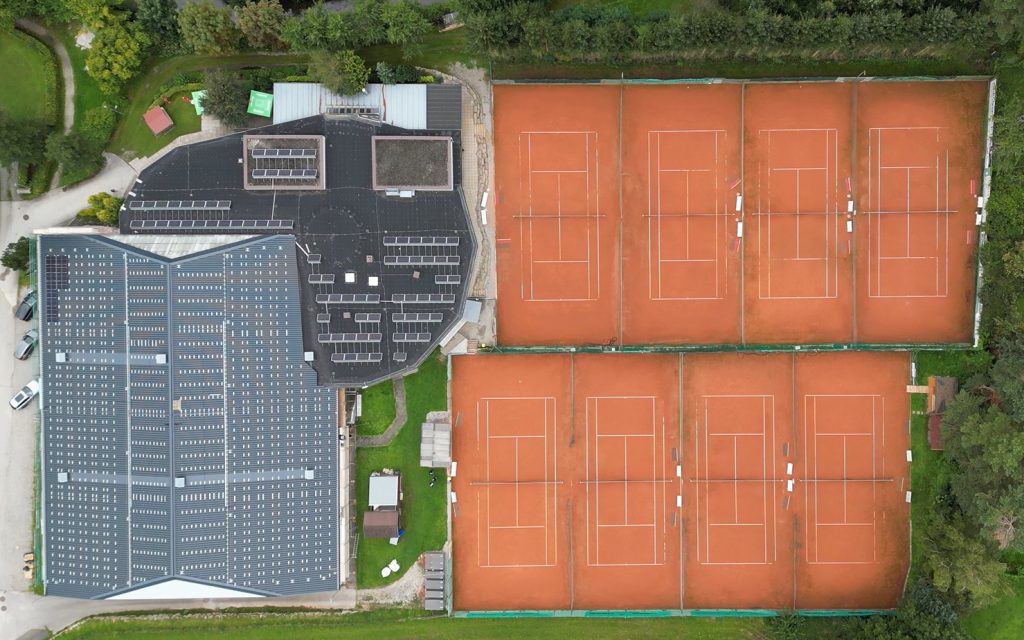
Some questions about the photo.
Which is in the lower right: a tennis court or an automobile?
tennis court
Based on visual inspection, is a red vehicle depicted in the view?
No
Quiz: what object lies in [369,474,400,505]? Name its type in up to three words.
building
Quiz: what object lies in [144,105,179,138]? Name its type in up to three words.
shed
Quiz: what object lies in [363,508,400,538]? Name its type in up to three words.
shed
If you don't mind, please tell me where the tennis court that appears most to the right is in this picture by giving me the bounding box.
[855,81,988,345]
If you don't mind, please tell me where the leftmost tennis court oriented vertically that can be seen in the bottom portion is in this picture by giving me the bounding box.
[453,355,572,610]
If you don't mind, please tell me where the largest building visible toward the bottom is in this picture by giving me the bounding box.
[38,234,353,599]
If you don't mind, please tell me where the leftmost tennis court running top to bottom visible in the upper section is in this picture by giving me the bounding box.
[494,84,622,346]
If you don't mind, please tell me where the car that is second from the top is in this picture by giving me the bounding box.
[14,329,39,361]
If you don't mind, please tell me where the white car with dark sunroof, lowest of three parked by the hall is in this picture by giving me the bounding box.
[9,378,40,410]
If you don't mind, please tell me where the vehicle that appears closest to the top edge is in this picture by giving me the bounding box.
[13,288,39,320]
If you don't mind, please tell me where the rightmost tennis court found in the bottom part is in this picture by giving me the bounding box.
[794,353,912,609]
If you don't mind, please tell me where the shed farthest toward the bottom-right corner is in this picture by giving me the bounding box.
[928,414,946,450]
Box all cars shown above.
[13,288,39,320]
[14,329,39,361]
[9,378,40,410]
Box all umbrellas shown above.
[189,91,214,116]
[249,92,274,117]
